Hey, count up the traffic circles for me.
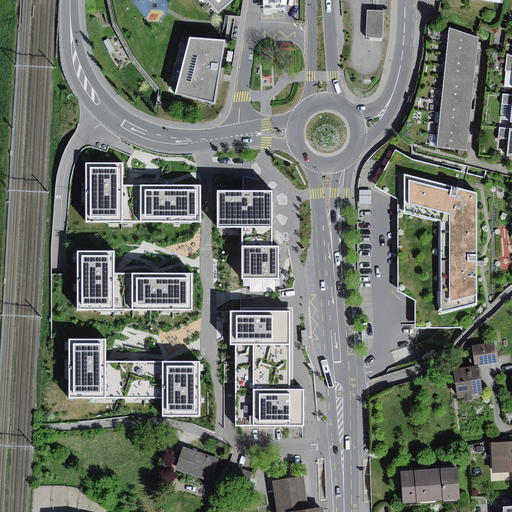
1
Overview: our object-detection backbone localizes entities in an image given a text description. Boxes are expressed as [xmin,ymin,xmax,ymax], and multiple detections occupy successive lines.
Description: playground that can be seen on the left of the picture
[135,0,169,22]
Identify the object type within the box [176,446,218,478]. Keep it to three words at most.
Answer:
house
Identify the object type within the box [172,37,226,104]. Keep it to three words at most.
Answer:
building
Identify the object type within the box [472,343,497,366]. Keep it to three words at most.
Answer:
house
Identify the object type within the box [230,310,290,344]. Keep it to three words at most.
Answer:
building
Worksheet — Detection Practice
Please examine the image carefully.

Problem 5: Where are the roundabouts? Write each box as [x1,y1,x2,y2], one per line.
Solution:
[288,93,367,172]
